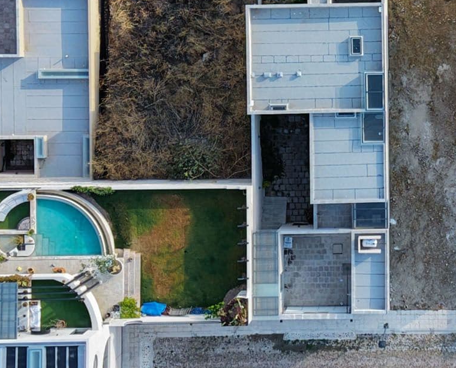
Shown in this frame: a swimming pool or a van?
swimming pool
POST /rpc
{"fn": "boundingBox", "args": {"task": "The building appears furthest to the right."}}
[246,0,392,311]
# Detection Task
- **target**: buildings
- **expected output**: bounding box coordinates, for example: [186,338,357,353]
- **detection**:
[0,284,113,368]
[0,0,103,182]
[246,0,392,311]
